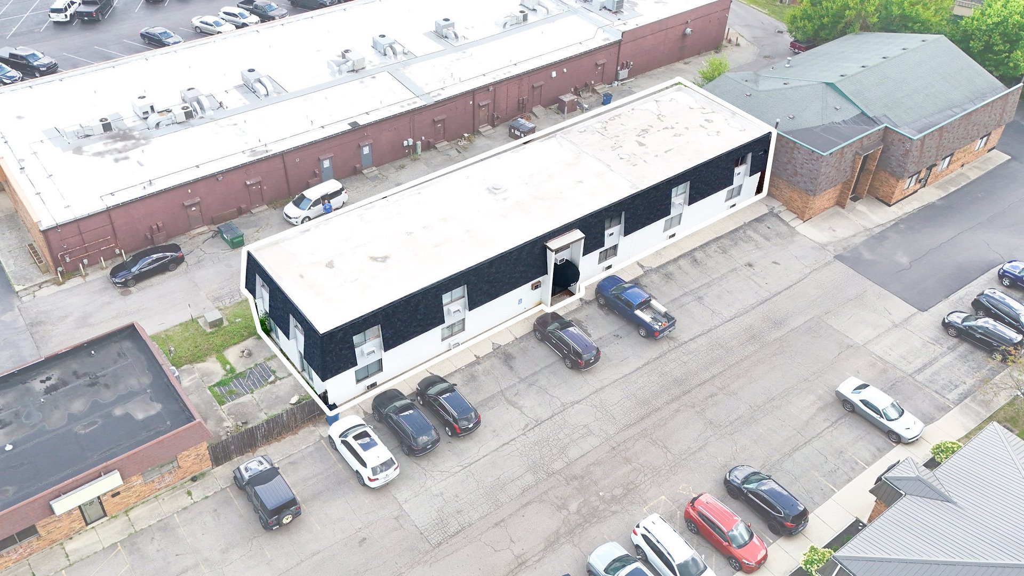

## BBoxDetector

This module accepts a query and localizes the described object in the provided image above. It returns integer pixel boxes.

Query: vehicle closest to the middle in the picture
[533,311,604,374]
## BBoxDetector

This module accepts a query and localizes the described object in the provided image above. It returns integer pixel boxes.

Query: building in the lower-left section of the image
[0,323,215,568]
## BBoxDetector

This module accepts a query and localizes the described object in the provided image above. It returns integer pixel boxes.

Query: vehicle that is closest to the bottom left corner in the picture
[231,454,305,539]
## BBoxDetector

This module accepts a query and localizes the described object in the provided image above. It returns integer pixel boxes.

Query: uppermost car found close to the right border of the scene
[996,261,1024,291]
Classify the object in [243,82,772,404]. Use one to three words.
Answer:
building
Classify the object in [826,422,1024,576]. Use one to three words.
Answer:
building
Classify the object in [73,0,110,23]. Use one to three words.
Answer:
truck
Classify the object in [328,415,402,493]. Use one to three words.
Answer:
car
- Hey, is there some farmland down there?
No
